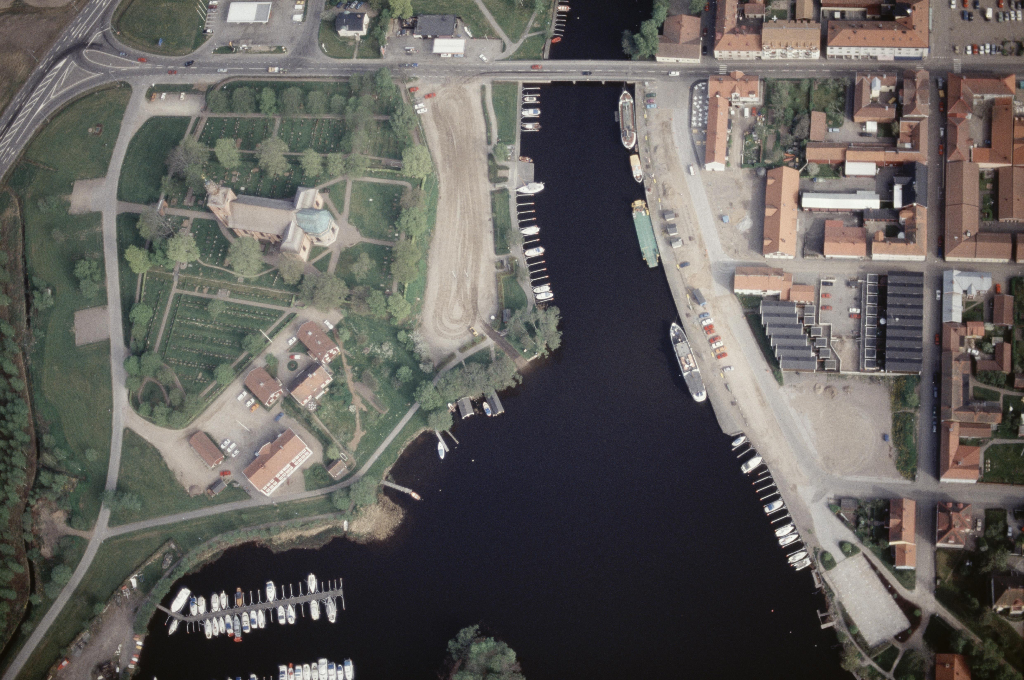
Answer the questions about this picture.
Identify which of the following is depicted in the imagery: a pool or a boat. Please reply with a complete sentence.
Of the two, only a boat appears.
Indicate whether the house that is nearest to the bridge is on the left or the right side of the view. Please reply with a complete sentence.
You can find the house that is nearest to the bridge on the right side of the picture.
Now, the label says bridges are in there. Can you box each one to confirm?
[479,58,657,84]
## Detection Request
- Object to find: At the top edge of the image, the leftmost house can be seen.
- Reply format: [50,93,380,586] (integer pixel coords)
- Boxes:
[335,10,369,37]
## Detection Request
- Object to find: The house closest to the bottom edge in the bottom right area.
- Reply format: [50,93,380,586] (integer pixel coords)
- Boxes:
[936,652,972,680]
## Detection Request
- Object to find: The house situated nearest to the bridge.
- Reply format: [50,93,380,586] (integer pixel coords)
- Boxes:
[656,10,701,65]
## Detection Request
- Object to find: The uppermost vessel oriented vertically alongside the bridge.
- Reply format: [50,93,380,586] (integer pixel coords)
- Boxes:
[619,90,636,151]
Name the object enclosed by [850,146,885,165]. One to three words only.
barn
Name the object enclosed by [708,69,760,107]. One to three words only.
building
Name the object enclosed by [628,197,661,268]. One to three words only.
ship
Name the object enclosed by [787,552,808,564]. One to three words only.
boat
